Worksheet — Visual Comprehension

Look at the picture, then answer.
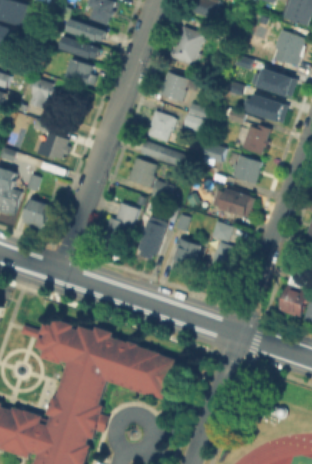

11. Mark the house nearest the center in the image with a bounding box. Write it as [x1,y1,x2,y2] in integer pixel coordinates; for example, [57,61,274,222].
[140,218,167,257]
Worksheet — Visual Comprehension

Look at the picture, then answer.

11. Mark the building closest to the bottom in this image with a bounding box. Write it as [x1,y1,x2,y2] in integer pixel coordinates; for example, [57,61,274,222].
[0,318,174,464]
